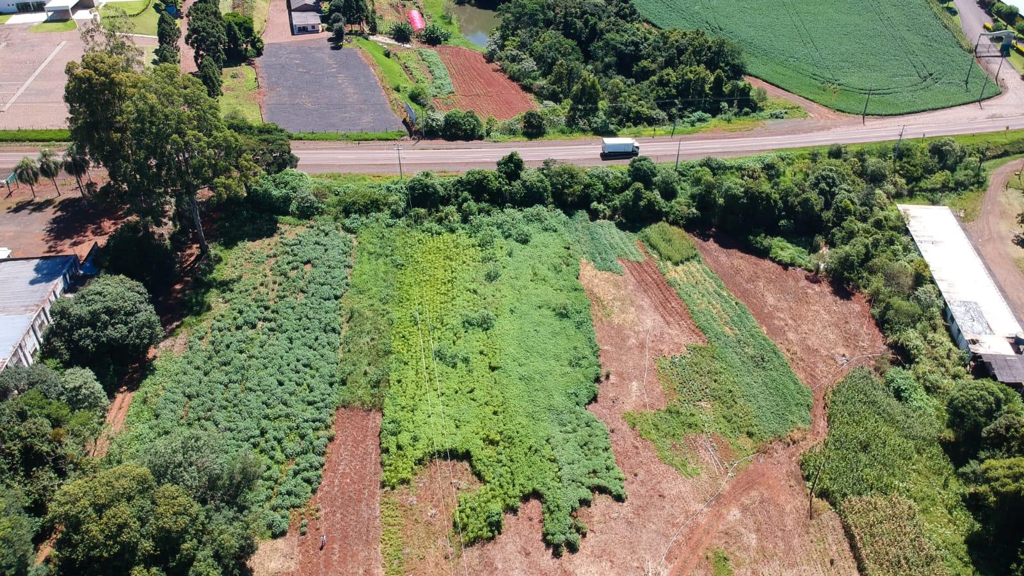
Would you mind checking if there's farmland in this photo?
Yes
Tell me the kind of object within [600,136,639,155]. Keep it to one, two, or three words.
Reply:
vehicle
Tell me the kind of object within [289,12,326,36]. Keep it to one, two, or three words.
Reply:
house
